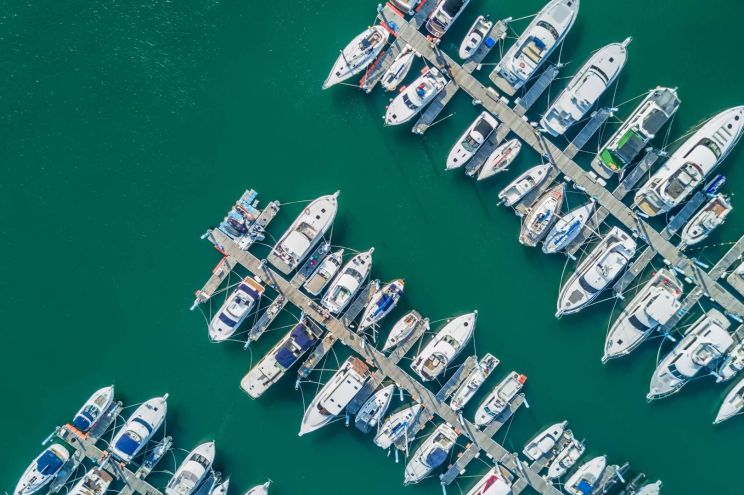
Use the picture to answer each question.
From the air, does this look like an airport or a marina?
marina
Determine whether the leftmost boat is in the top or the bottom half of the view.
bottom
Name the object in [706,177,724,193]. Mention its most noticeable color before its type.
blue boat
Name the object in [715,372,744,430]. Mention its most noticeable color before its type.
white boat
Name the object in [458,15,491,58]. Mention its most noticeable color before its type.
white boat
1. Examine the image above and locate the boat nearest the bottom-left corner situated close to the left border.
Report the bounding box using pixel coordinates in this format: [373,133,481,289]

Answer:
[12,438,70,495]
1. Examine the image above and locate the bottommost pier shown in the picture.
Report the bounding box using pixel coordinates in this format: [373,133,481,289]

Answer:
[46,398,223,495]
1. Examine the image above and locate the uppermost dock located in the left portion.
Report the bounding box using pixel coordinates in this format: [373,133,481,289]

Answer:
[222,190,262,243]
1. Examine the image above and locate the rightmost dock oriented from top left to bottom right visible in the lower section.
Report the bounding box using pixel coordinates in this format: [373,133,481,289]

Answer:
[195,198,619,495]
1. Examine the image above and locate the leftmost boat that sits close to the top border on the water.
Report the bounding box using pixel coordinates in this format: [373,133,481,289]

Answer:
[322,24,392,89]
